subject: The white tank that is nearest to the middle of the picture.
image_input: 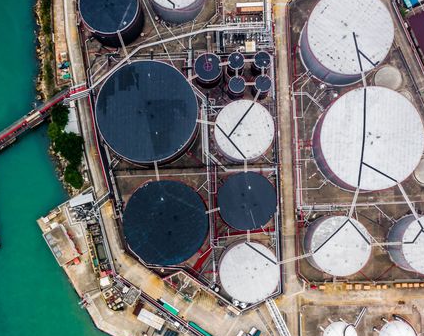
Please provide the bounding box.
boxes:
[205,92,282,172]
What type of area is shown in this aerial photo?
industrial area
